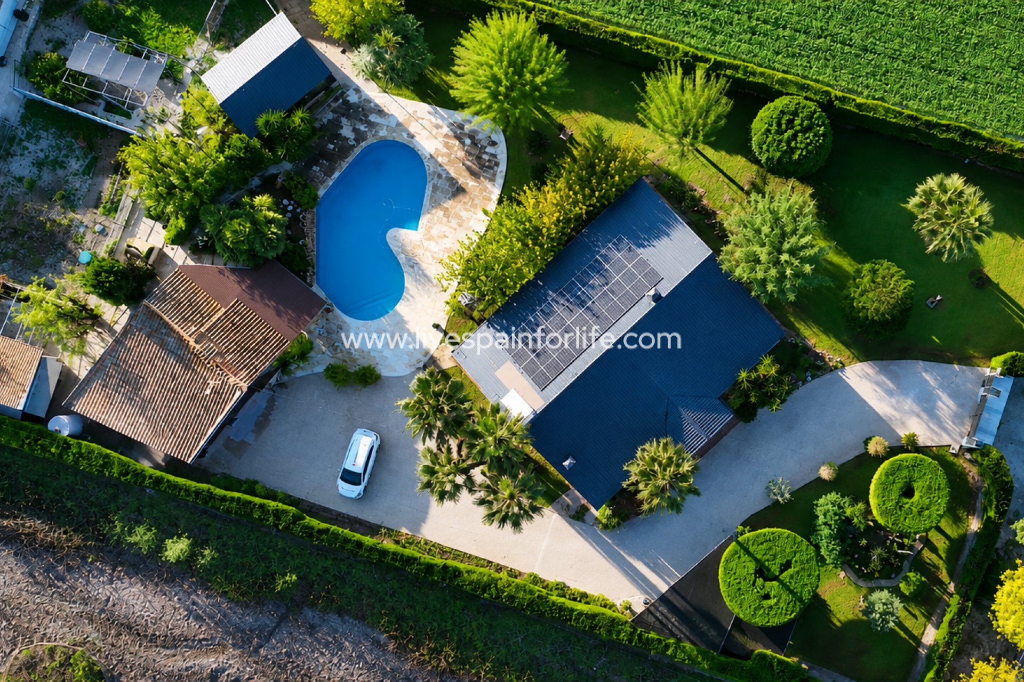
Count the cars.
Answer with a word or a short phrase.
1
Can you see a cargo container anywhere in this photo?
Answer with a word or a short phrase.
No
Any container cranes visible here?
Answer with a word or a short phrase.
No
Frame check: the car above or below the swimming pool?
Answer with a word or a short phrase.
below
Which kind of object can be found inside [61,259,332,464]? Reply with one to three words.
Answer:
house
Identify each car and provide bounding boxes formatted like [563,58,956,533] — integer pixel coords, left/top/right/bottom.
[334,430,380,501]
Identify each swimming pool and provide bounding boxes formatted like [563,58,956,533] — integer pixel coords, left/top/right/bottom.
[311,135,432,325]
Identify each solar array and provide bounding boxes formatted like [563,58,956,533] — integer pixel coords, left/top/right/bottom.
[504,236,662,394]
